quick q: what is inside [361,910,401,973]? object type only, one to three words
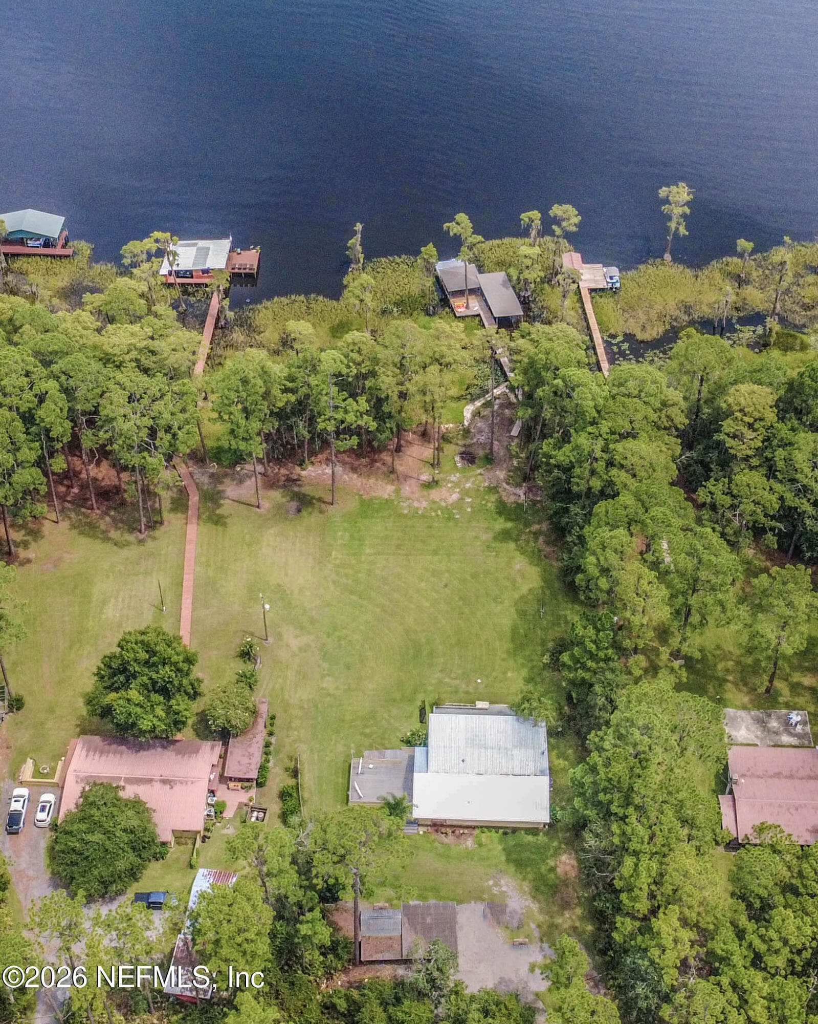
shed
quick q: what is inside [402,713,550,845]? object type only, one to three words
house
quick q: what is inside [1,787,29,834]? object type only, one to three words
truck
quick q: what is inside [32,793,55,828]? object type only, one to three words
car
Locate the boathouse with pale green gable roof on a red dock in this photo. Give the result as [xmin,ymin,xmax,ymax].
[0,211,66,257]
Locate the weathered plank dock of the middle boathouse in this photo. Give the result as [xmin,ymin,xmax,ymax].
[435,276,480,319]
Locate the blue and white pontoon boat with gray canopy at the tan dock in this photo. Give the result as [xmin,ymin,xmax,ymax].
[605,263,622,295]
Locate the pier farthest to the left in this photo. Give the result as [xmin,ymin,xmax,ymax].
[0,230,73,257]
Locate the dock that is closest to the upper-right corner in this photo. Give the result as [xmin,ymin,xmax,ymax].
[561,264,608,293]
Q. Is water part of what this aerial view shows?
Yes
